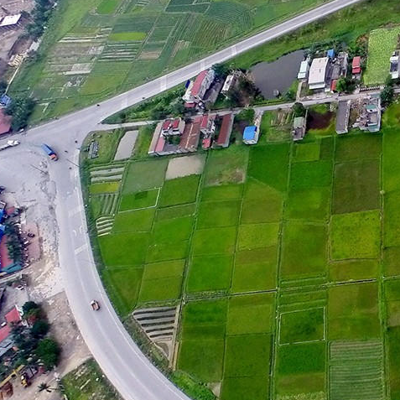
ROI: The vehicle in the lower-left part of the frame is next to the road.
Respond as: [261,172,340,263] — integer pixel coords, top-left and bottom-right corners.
[83,297,99,312]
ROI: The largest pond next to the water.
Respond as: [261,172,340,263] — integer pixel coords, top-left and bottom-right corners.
[249,48,313,99]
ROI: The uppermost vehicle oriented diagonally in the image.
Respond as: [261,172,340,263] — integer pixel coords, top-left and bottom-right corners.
[33,138,58,159]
